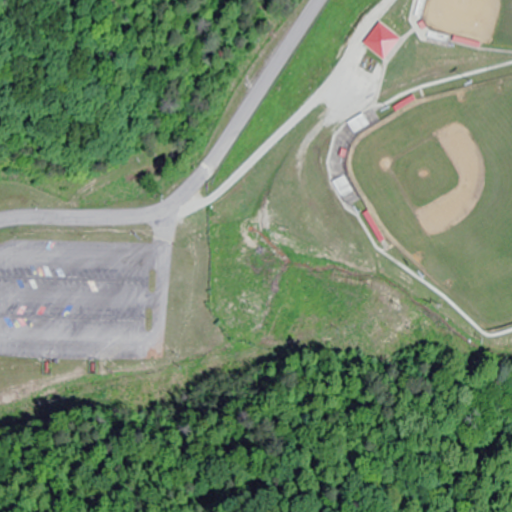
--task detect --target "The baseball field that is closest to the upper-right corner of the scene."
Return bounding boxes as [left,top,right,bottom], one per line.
[423,0,512,48]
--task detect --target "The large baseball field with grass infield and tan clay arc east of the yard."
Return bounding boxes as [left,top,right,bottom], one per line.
[347,76,512,330]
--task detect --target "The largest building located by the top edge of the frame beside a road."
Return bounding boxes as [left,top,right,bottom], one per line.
[362,20,400,60]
